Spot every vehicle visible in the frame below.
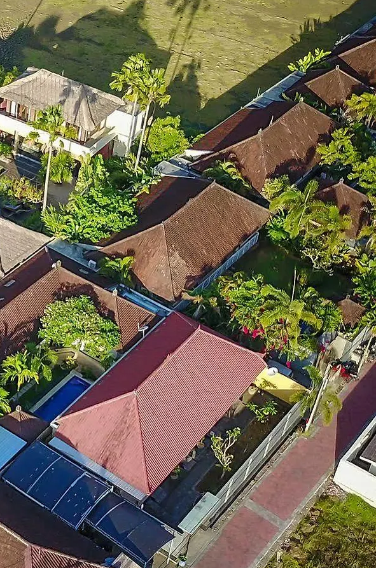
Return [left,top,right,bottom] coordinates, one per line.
[335,353,343,373]
[343,356,359,371]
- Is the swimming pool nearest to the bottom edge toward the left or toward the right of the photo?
left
